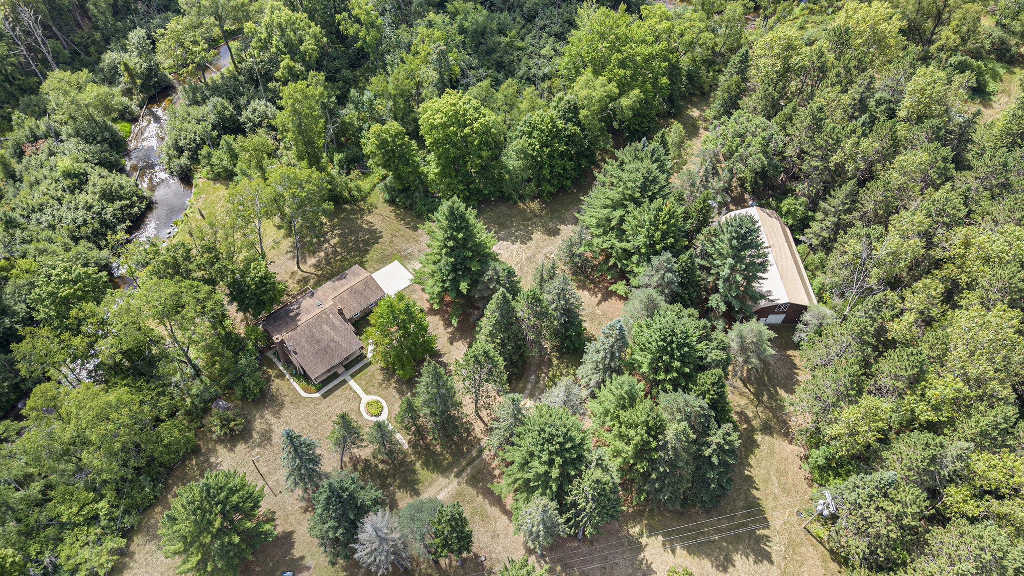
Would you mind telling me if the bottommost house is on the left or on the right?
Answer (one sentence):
You can find the bottommost house on the left side of the picture.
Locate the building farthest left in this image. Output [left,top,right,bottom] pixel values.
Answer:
[238,267,387,385]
